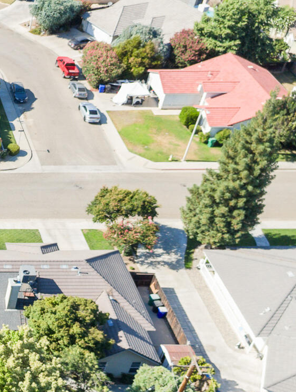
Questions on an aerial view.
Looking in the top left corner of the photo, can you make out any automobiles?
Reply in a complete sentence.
Yes, an automobile can be seen in the top left corner of the photo.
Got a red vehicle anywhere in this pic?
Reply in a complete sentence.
Yes, the photo shows a red vehicle.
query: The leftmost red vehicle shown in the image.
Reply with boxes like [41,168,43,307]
[53,55,86,80]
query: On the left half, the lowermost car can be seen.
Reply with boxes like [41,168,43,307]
[77,102,105,123]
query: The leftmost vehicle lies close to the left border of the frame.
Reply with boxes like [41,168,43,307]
[7,81,32,103]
